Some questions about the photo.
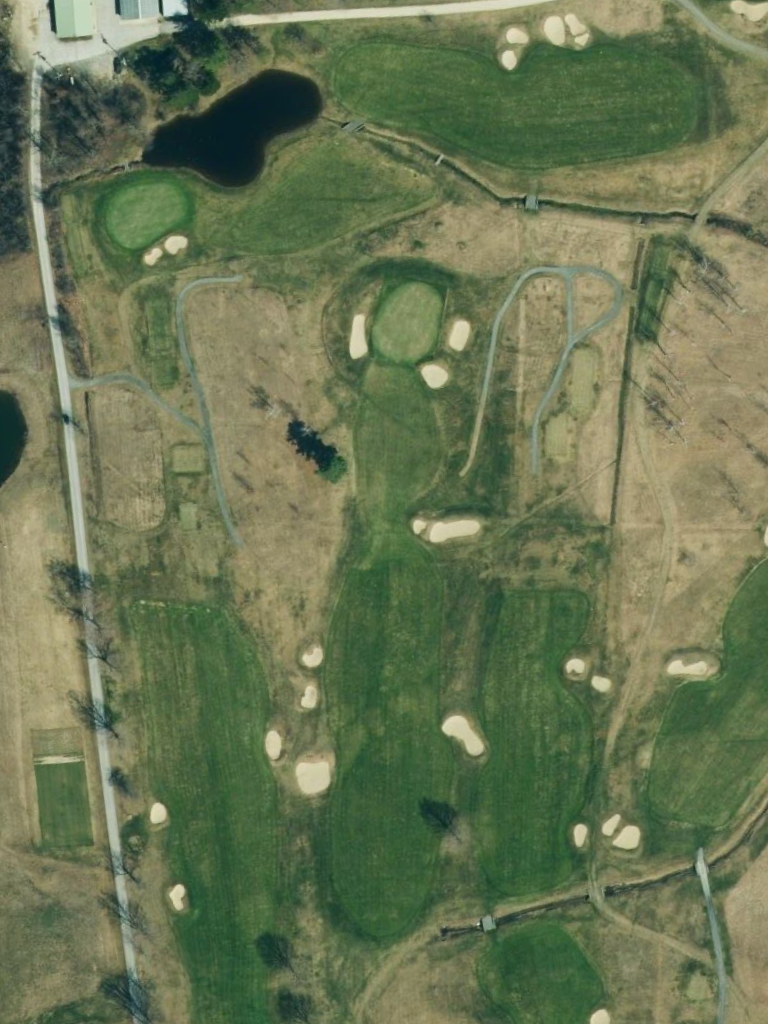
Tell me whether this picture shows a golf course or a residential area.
golf course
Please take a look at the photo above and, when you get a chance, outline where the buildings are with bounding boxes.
[119,0,158,21]
[54,0,92,39]
[161,0,186,16]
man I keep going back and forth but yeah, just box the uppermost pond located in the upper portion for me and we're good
[141,68,322,188]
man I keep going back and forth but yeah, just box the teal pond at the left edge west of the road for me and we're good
[0,390,28,483]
